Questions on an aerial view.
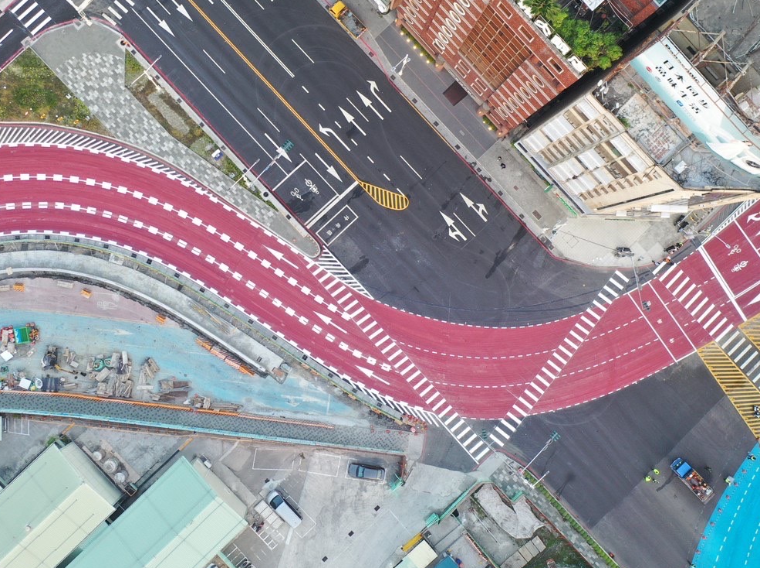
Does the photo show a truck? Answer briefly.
Yes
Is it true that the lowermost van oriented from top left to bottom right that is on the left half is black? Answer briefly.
No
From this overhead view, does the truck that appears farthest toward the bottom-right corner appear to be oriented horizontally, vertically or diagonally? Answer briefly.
diagonally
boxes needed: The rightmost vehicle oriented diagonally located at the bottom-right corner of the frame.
[675,458,716,504]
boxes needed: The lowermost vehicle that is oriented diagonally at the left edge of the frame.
[38,350,76,377]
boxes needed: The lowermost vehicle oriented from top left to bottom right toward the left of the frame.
[267,490,300,531]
